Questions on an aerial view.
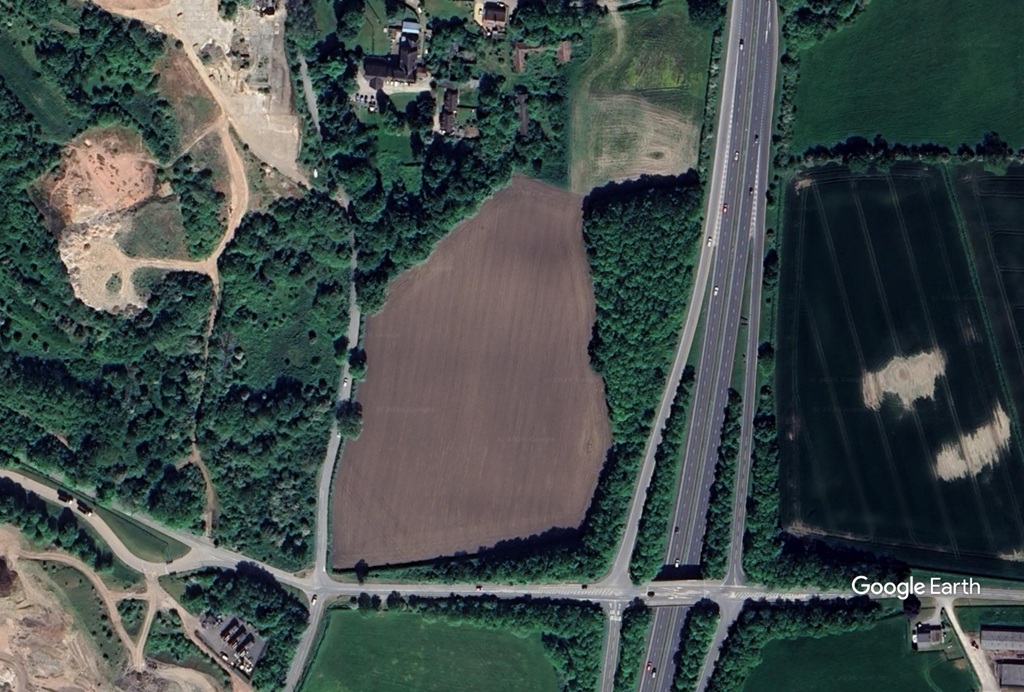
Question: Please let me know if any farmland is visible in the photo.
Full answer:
Yes, some farmland is visible.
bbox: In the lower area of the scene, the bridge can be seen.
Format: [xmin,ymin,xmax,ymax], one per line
[644,581,710,605]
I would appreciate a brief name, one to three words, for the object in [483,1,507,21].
house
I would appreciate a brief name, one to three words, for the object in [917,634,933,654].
house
